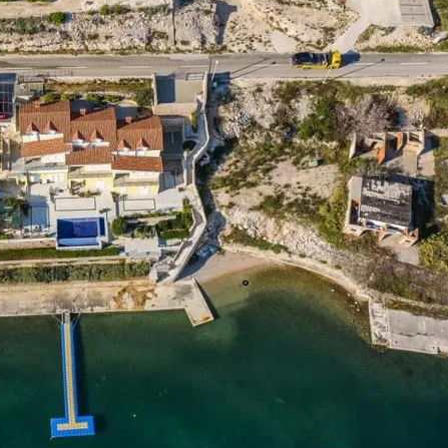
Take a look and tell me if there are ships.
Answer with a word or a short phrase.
No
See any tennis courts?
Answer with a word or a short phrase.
No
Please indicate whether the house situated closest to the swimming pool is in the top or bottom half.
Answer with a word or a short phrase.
top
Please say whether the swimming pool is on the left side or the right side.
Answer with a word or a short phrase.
left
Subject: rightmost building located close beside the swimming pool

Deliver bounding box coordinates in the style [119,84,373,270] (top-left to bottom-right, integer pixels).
[19,101,164,196]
